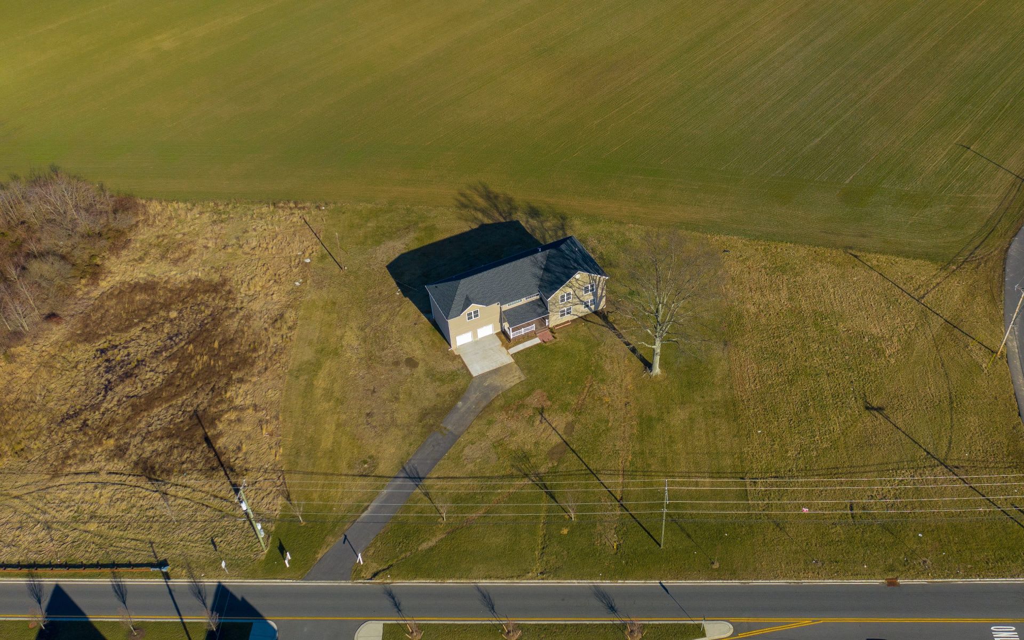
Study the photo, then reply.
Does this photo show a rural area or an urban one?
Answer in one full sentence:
This place is rural.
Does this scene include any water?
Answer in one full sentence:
No, the picture contains no water.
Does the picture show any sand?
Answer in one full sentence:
No, the scene doesn't show any sand.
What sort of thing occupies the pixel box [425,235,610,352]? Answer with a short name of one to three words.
house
